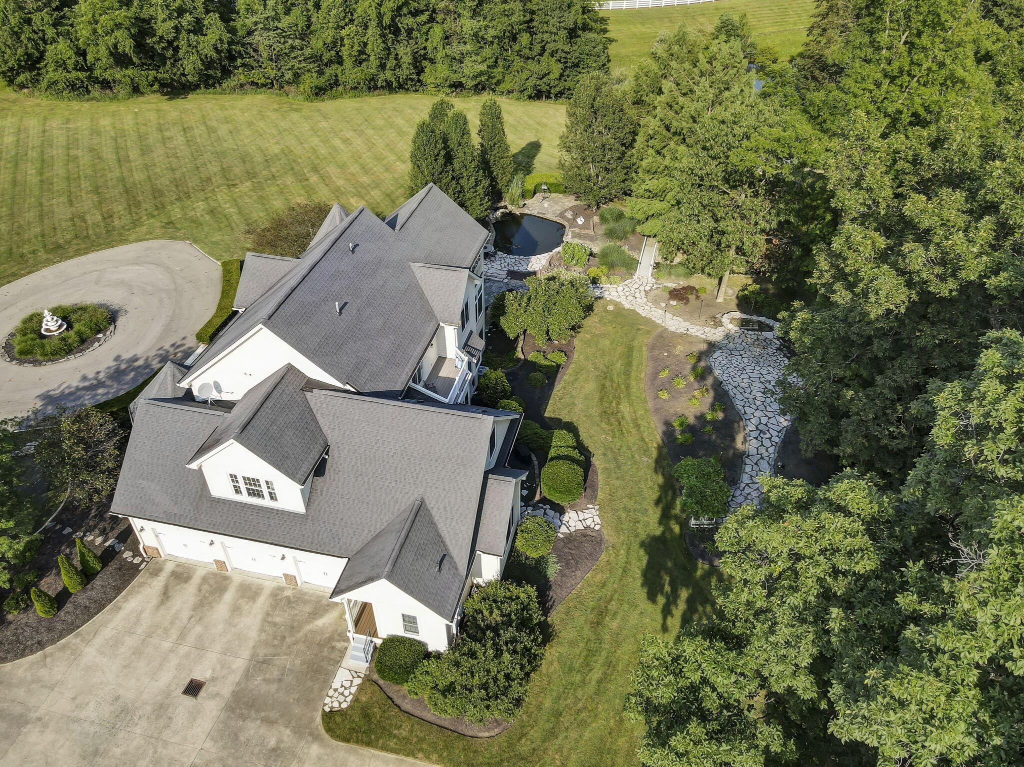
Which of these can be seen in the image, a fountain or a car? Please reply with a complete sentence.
The image shows a fountain.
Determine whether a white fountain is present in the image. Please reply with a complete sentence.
Yes, there's a white fountain here.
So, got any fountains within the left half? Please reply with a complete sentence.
Yes, a fountain shows up within the left half.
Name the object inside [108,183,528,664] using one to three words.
house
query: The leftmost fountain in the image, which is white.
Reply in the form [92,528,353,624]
[36,307,66,337]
